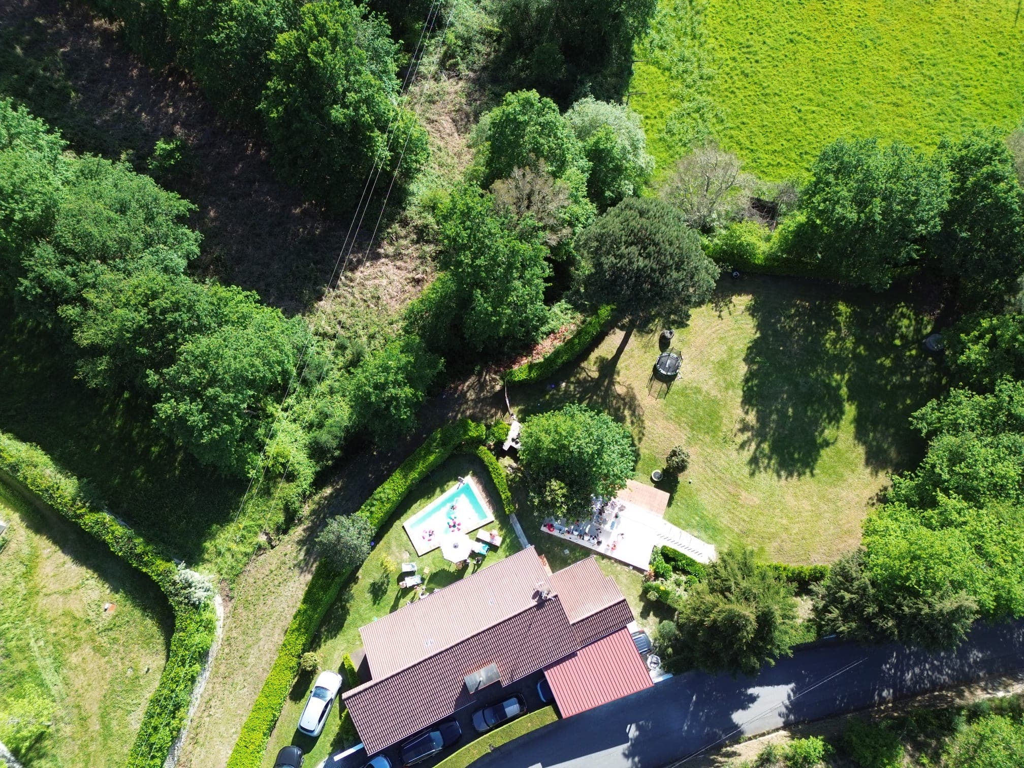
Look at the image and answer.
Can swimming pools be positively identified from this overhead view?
Yes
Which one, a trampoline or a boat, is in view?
trampoline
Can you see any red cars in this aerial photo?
No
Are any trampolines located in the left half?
No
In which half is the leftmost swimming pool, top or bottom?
bottom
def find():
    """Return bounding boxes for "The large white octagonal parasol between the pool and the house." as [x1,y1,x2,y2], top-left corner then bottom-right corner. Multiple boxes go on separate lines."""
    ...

[440,532,473,565]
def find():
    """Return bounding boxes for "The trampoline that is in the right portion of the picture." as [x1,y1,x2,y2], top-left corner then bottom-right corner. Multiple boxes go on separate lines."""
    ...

[653,339,687,381]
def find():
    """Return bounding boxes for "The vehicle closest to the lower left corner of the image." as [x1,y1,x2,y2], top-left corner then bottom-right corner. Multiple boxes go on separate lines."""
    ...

[269,746,306,768]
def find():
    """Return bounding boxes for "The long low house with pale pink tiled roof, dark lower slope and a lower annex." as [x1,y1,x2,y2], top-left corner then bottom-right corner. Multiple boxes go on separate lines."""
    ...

[342,544,635,757]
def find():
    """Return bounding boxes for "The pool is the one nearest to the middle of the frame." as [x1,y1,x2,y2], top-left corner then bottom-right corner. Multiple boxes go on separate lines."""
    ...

[404,477,494,555]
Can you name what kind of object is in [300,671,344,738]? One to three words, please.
car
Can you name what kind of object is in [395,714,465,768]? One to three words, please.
car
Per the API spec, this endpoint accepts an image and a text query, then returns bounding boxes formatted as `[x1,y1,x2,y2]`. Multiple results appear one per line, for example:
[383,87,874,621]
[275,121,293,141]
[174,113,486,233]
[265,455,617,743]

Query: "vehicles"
[269,746,306,768]
[341,748,394,768]
[630,629,656,659]
[535,675,555,703]
[300,671,344,738]
[395,714,465,768]
[471,690,530,734]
